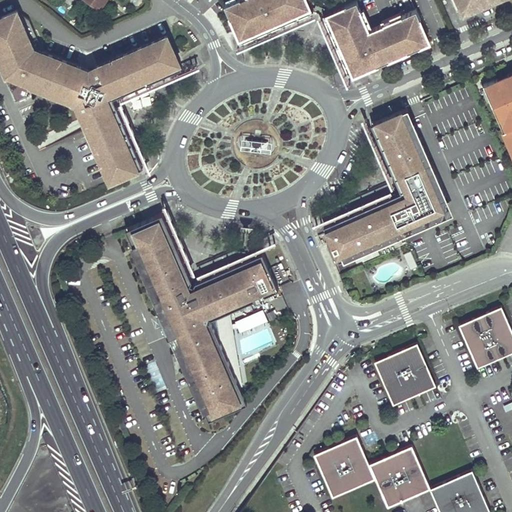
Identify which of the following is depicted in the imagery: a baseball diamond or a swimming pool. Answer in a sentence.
There is a swimming pool in the scene.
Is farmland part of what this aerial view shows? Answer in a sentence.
No, there's no farmland in this view.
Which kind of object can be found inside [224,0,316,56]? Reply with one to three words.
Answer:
building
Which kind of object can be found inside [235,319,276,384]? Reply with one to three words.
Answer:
swimming pool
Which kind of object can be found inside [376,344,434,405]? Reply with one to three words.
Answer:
building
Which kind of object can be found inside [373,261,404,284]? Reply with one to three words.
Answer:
swimming pool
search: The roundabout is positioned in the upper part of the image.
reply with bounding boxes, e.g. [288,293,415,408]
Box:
[164,64,350,222]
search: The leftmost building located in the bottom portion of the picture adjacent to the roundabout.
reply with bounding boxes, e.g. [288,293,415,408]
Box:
[126,208,287,422]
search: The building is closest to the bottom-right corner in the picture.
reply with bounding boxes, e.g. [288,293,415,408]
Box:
[430,472,490,512]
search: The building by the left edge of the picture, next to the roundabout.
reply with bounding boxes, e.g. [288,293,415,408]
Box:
[0,12,200,189]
